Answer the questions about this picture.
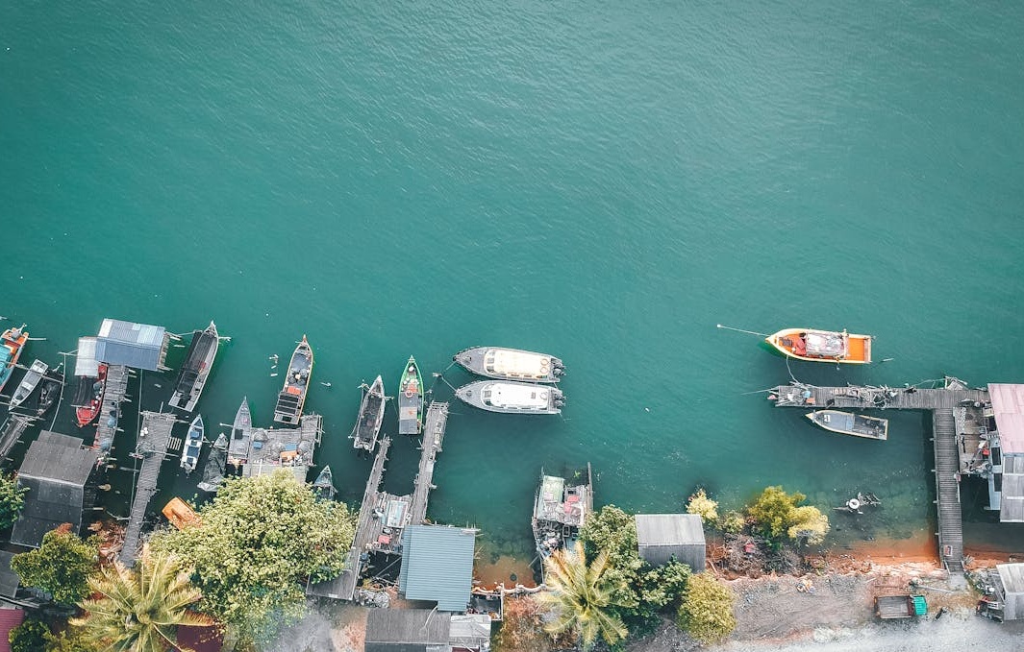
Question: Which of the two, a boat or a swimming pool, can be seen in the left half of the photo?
boat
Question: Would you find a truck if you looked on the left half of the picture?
No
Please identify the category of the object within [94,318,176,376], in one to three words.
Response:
shed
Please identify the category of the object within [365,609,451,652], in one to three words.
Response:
house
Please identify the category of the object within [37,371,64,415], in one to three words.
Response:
boat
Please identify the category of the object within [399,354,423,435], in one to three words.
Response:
boat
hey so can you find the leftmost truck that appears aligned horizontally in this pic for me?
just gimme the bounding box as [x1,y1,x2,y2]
[872,592,933,622]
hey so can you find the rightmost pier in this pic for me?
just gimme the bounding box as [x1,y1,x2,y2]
[775,380,989,566]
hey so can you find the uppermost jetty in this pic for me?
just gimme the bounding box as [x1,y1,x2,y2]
[95,365,136,457]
